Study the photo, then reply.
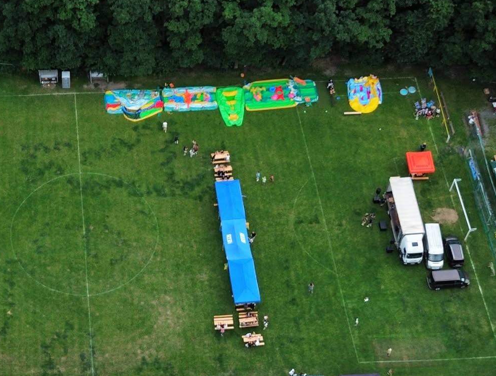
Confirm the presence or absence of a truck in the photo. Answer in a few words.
Yes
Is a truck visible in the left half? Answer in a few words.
No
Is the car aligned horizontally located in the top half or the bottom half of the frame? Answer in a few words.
bottom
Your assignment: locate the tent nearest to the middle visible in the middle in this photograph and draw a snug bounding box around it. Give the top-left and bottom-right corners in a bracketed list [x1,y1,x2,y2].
[214,179,245,228]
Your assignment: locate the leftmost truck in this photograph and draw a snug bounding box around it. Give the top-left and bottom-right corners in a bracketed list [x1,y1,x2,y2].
[387,177,427,266]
